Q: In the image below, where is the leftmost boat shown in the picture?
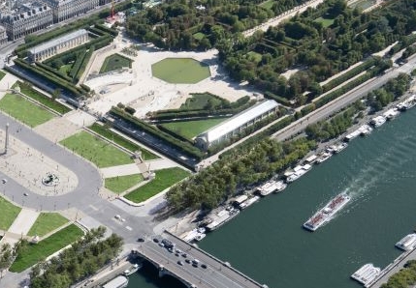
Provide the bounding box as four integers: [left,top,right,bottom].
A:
[102,274,127,288]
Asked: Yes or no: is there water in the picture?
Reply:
Yes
